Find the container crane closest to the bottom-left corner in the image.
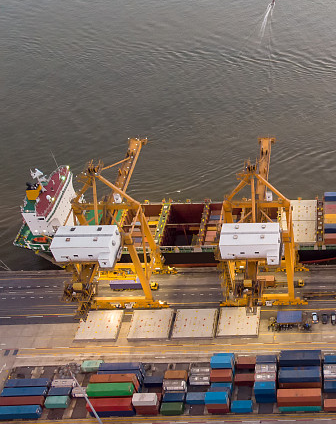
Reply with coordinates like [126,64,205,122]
[51,138,185,317]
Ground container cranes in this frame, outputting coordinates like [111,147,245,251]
[208,136,316,314]
[51,138,185,317]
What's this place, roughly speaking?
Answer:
port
